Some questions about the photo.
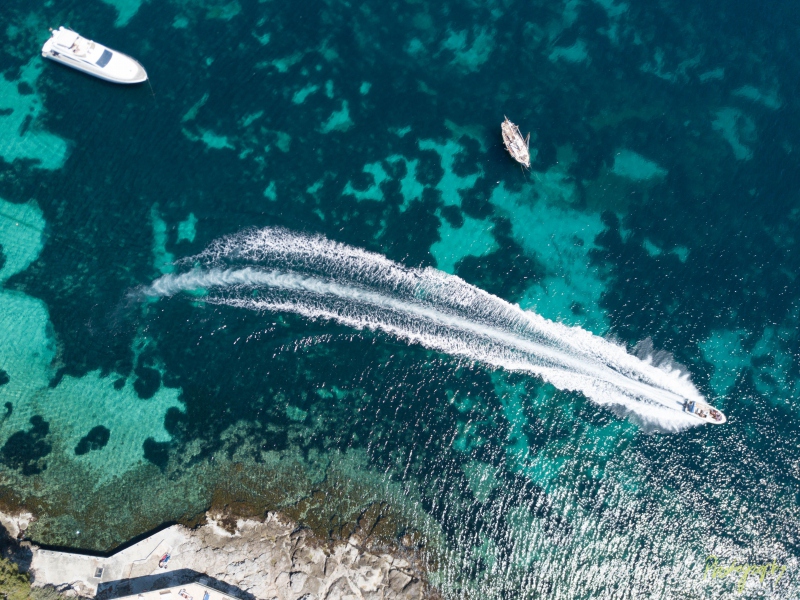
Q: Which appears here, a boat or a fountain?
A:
boat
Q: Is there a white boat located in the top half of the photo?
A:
Yes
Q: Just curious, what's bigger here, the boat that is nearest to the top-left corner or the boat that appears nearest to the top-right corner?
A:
the boat that is nearest to the top-left corner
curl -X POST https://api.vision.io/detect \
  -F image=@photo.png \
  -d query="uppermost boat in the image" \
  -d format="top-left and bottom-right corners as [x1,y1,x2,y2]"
[34,20,161,117]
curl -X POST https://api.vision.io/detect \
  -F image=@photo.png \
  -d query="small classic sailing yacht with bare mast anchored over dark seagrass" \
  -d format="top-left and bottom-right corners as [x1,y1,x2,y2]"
[499,113,544,193]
